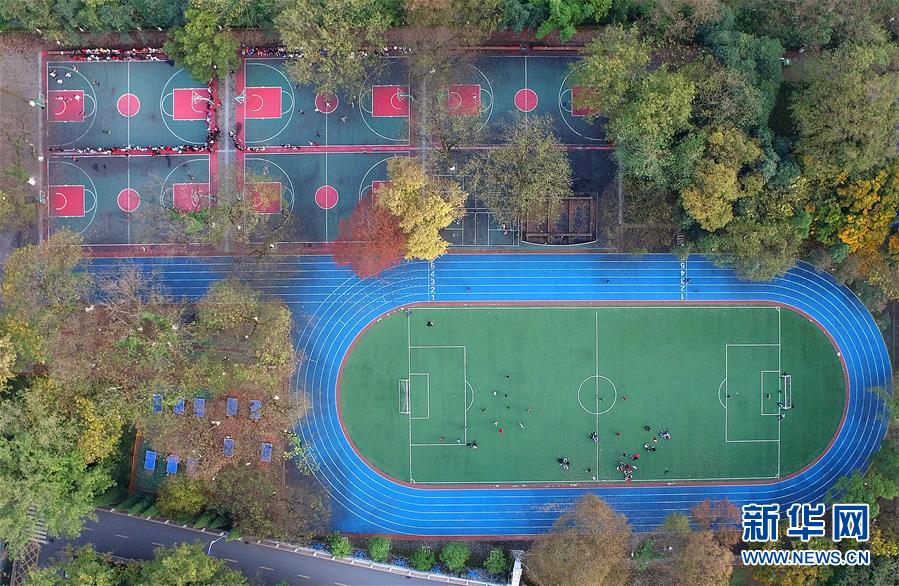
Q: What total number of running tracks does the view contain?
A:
1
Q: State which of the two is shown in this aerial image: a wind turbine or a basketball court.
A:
basketball court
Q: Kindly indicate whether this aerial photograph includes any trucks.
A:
No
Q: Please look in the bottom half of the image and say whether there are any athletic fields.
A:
Yes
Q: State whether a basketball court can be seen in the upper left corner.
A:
Yes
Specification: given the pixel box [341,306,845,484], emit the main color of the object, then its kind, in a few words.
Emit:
green sports field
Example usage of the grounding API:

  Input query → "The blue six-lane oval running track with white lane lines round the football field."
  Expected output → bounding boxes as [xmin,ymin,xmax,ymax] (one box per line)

[60,252,893,540]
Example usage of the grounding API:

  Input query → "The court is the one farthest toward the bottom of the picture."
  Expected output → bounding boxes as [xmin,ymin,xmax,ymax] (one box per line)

[432,212,520,246]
